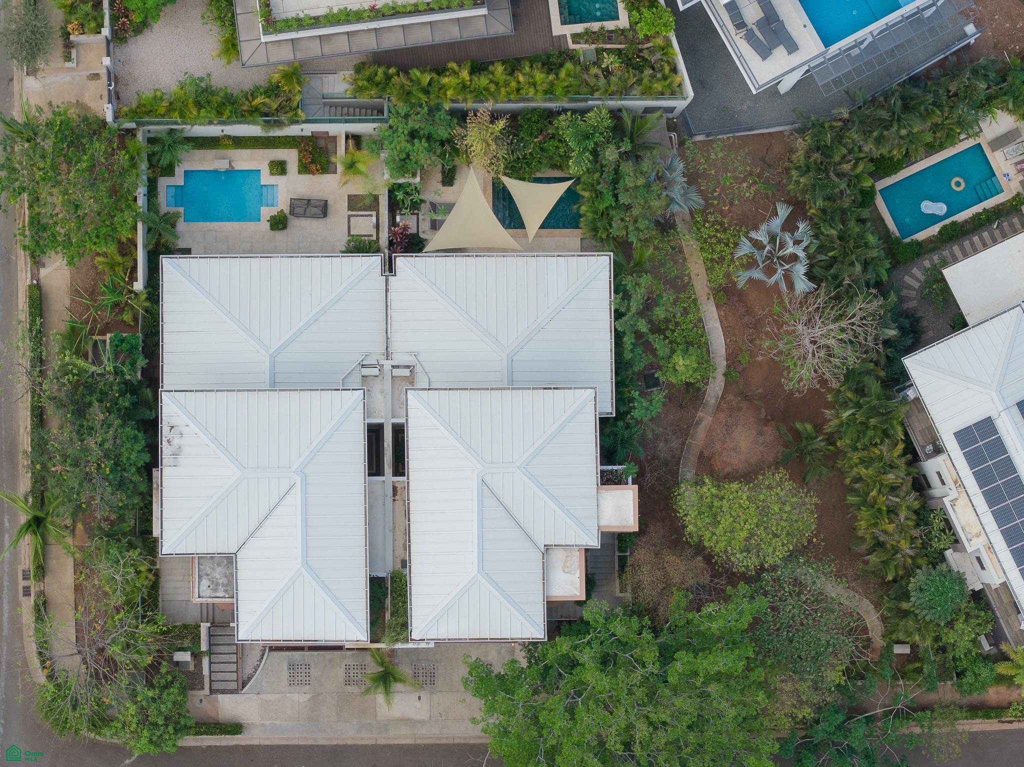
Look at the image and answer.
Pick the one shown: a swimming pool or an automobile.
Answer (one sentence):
There is a swimming pool in the scene.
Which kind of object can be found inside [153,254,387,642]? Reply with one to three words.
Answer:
house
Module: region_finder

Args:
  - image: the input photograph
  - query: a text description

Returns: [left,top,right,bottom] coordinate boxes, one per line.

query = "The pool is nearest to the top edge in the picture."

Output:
[550,0,628,35]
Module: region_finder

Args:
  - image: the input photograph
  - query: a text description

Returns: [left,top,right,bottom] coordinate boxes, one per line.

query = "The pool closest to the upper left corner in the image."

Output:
[158,162,287,231]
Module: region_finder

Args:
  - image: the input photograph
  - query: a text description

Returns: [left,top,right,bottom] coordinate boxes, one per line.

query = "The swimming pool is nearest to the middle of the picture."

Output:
[484,168,589,238]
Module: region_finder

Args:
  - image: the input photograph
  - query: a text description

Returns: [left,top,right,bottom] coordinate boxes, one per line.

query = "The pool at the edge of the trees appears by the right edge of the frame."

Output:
[870,134,1012,240]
